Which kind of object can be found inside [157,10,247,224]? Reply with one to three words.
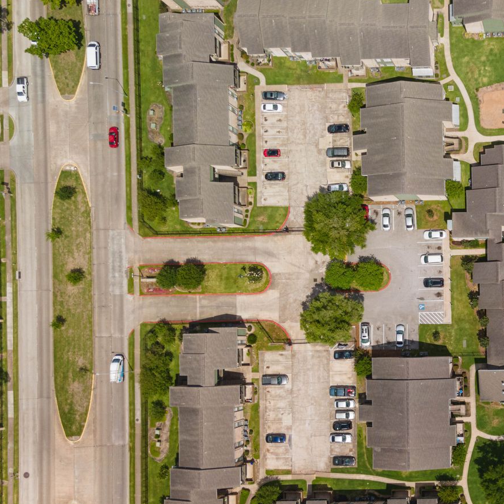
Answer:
building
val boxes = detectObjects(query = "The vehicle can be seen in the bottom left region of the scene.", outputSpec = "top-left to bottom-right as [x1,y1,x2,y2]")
[109,356,123,381]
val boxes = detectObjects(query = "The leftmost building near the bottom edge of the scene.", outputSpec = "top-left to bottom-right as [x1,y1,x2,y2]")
[164,328,255,504]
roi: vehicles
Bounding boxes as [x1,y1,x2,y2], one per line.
[329,158,351,169]
[107,126,118,147]
[423,229,446,240]
[86,43,99,67]
[263,170,286,181]
[404,207,414,230]
[326,182,348,191]
[333,399,356,408]
[380,207,391,230]
[335,411,355,420]
[360,323,371,346]
[109,356,123,381]
[329,386,356,397]
[14,75,28,102]
[265,433,286,443]
[260,101,283,112]
[326,146,348,157]
[261,375,288,386]
[327,123,349,132]
[330,433,352,444]
[394,325,405,347]
[423,278,444,288]
[420,254,444,263]
[86,0,98,14]
[332,457,355,467]
[262,89,285,100]
[332,350,355,360]
[333,421,352,431]
[261,147,282,157]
